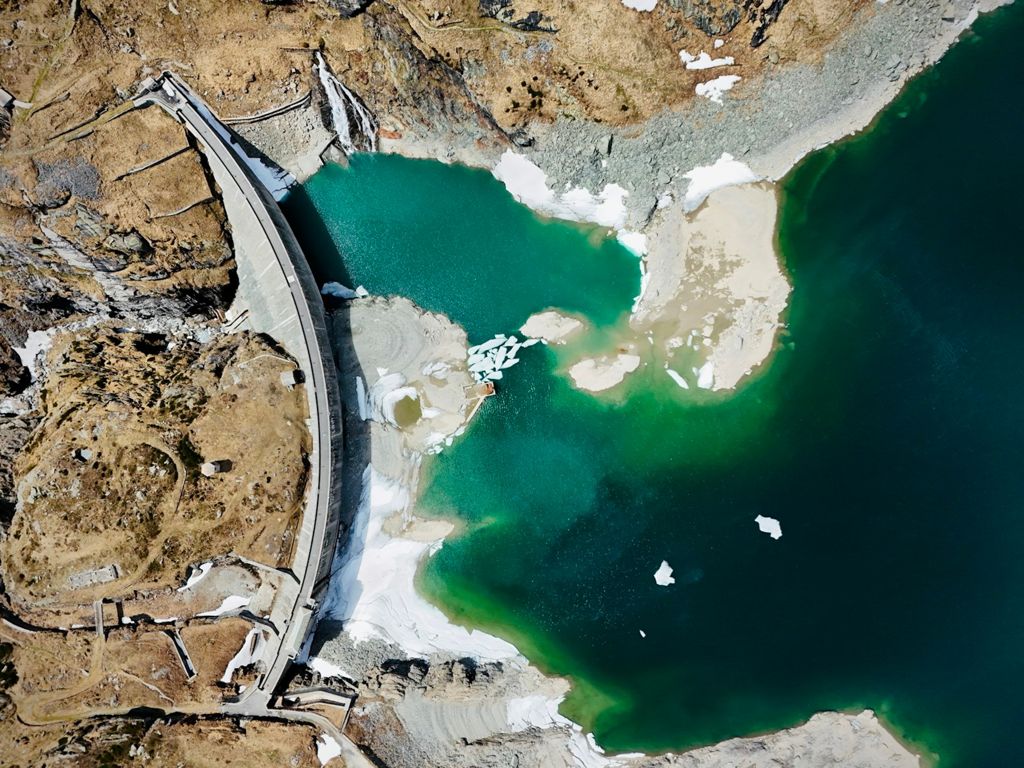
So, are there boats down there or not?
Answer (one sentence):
No, no boat is visible in the view.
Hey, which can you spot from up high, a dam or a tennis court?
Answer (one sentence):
I can see a dam in this picture.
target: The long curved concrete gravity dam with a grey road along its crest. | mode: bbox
[177,102,341,693]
